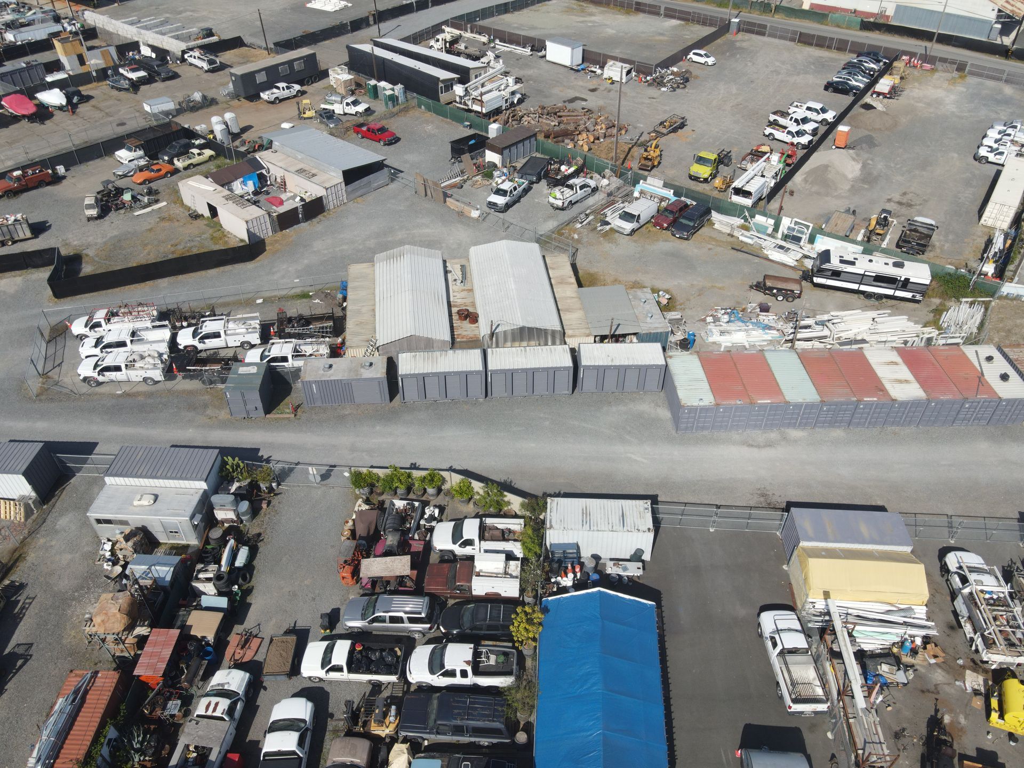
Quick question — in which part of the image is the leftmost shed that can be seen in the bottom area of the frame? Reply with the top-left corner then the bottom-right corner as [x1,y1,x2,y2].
[0,446,60,508]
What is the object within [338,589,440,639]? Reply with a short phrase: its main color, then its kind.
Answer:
gray car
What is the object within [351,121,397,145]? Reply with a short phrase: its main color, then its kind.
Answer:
red truck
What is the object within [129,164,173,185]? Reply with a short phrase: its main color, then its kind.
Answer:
orange car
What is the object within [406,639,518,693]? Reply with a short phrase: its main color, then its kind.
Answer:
white truck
